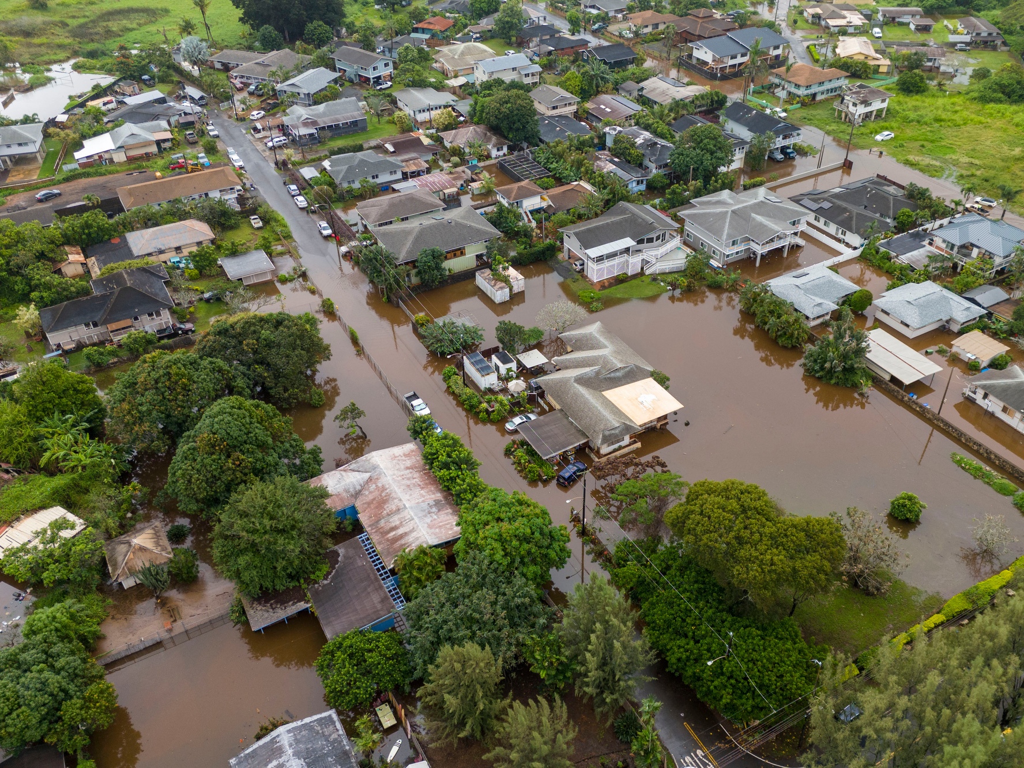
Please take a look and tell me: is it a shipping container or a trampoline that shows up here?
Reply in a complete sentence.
The image shows a shipping container.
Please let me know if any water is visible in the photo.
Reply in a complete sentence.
Yes, some water is visible.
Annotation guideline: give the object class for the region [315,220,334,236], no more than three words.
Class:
vehicle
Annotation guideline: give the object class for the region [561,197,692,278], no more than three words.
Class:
house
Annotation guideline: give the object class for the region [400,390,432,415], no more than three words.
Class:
truck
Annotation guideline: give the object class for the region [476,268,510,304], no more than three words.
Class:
shipping container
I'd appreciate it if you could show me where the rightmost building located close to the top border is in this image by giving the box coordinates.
[945,14,1005,48]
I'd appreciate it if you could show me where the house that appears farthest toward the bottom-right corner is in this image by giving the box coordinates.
[964,365,1024,440]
